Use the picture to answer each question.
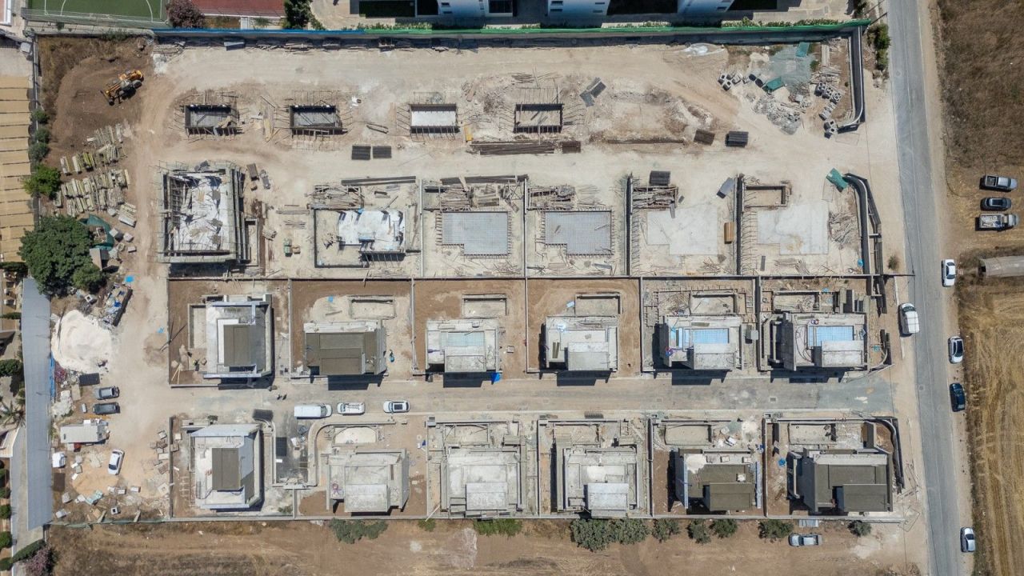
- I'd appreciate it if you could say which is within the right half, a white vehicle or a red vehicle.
white vehicle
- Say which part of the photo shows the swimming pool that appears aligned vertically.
left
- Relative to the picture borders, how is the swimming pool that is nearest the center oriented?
from left to right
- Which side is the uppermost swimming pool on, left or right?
right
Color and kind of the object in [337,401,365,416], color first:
white vehicle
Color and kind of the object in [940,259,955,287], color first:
white car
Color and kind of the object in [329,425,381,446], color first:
white swimming pool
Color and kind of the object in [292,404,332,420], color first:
white vehicle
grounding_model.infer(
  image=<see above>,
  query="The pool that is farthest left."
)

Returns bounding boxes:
[188,304,210,348]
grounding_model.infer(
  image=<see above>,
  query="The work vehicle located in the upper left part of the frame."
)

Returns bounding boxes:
[104,70,145,105]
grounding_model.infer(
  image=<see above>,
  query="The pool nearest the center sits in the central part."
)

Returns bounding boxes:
[462,294,507,317]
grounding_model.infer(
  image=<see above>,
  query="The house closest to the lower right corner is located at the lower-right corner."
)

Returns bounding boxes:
[799,445,892,512]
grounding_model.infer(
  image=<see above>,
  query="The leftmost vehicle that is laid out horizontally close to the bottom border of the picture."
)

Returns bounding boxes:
[787,532,821,548]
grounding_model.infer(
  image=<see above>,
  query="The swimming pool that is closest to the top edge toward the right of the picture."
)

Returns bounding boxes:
[741,185,789,207]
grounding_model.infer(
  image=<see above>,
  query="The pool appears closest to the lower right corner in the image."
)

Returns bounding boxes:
[786,422,833,444]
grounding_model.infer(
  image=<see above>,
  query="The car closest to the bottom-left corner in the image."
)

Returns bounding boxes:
[108,448,127,475]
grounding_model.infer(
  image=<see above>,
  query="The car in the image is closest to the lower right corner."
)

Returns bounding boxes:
[959,526,975,552]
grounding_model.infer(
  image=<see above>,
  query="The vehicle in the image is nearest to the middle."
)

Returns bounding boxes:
[384,400,410,414]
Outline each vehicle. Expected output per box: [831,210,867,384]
[979,214,1017,230]
[384,400,410,414]
[104,70,145,105]
[979,176,1015,191]
[787,532,821,548]
[980,198,1011,212]
[92,402,121,415]
[292,404,332,420]
[94,386,122,400]
[947,337,963,363]
[959,526,975,552]
[337,401,365,416]
[947,382,964,411]
[899,303,920,335]
[108,448,127,475]
[940,259,955,287]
